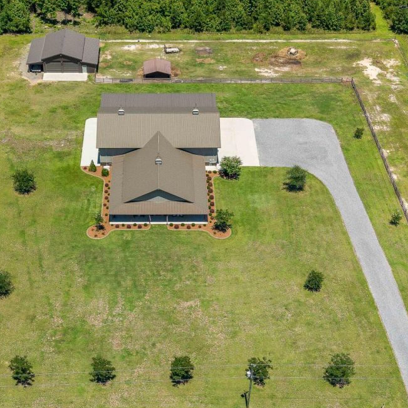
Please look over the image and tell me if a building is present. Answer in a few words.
Yes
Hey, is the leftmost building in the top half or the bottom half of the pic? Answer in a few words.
top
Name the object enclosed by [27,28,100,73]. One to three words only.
building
